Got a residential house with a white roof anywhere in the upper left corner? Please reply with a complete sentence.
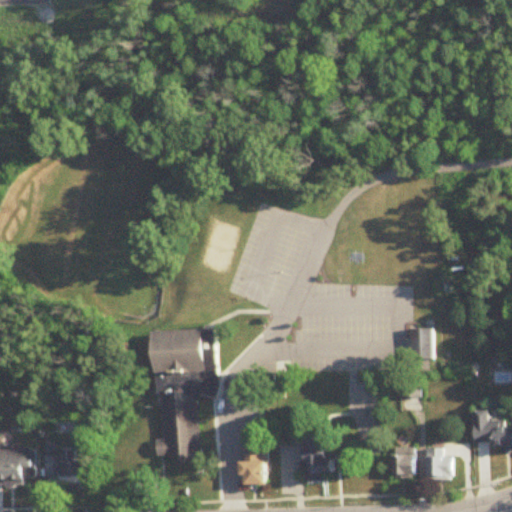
No, no residential house with a white roof can be made out in the upper left corner.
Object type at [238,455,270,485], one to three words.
house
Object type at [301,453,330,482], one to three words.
house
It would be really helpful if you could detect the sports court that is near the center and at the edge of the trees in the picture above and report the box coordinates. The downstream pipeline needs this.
[202,218,241,274]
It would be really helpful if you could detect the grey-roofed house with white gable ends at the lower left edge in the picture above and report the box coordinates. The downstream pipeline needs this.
[0,449,32,486]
